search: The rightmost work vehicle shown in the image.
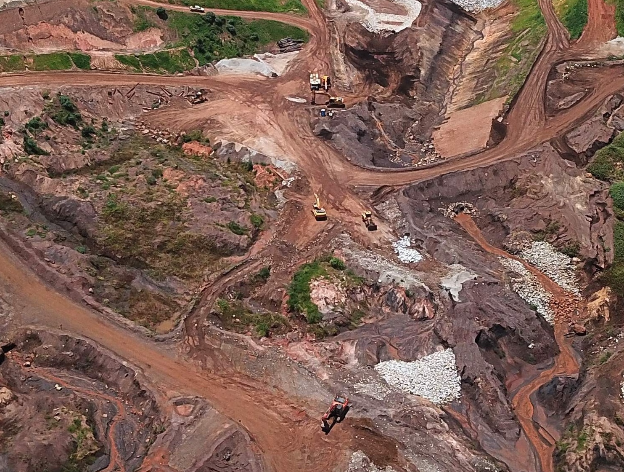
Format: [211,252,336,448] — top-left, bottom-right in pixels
[361,207,376,231]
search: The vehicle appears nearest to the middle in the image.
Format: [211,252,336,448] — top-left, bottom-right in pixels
[313,186,326,221]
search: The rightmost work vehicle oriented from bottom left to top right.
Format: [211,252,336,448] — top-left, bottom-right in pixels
[317,391,354,434]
